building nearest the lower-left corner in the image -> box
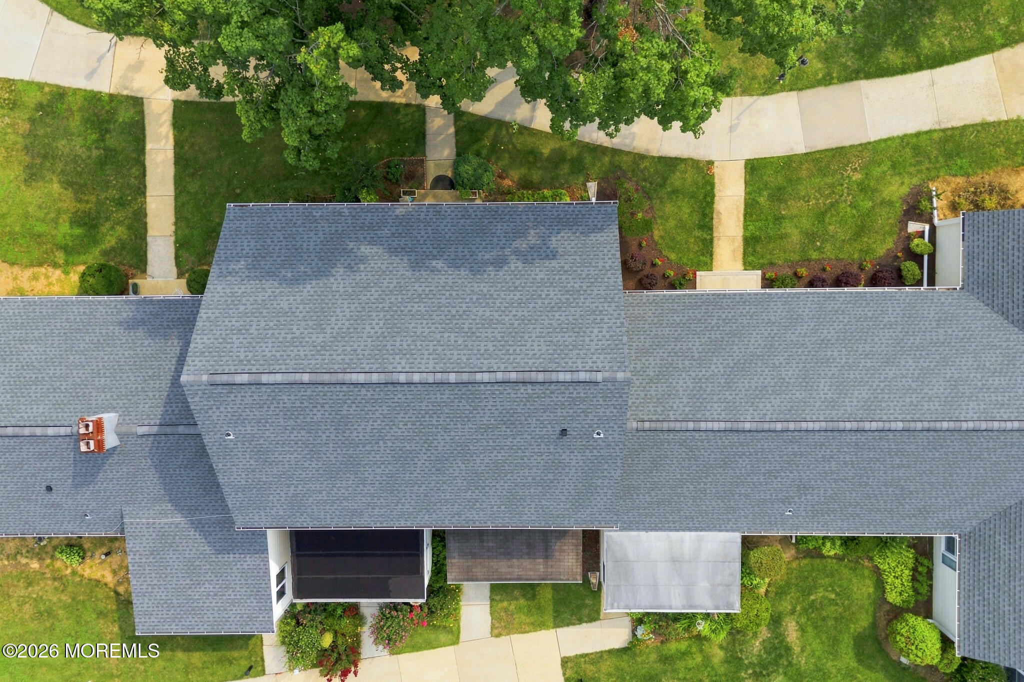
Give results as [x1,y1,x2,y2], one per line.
[0,295,294,636]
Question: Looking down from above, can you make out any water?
No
